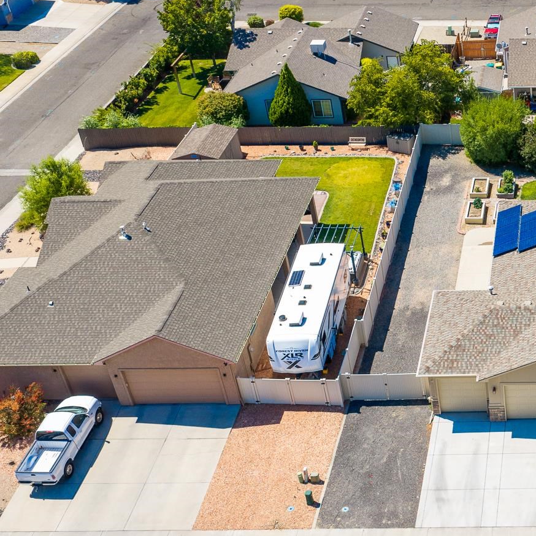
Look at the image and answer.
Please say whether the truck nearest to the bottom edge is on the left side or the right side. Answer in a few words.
left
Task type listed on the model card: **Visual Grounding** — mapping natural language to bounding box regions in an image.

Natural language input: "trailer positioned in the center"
[266,245,351,376]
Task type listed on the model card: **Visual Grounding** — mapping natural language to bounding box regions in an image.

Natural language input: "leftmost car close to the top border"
[482,5,505,36]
